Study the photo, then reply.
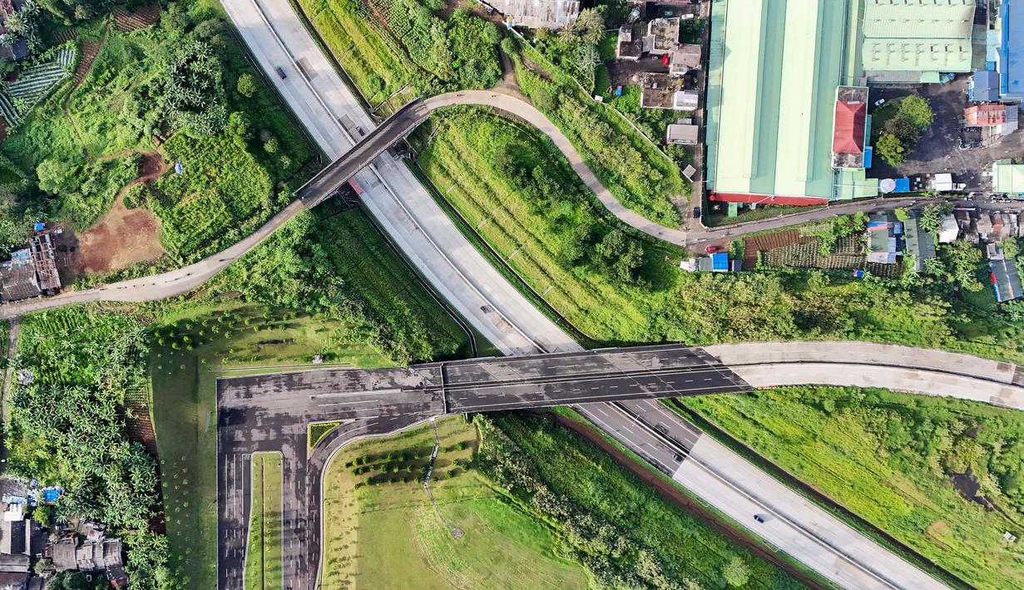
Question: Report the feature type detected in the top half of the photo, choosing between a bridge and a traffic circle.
bridge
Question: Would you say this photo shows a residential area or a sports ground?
residential area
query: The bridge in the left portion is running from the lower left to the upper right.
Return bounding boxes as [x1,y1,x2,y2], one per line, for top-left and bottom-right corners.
[293,96,432,207]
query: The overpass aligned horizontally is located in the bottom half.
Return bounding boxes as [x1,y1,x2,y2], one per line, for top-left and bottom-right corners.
[410,343,754,414]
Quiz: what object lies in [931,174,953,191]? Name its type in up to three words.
shed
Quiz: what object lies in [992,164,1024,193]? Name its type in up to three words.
house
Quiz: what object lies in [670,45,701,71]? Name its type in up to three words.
house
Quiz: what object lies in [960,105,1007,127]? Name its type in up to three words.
building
